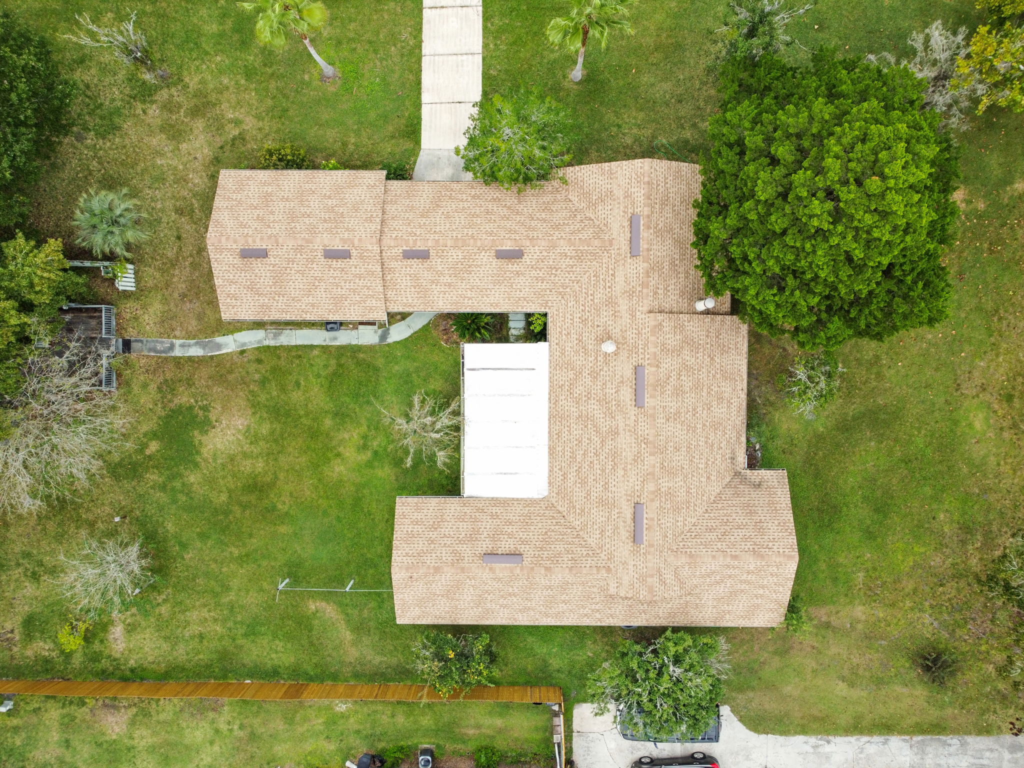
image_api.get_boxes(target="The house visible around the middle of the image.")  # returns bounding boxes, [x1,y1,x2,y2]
[207,158,799,628]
